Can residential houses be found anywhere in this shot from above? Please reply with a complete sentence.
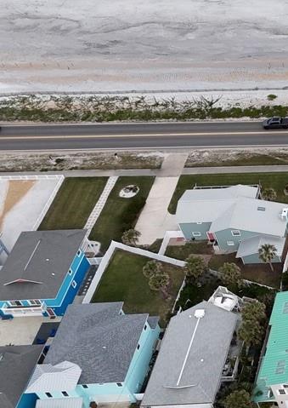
Yes, the image includes a residential house.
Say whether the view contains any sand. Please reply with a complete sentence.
Yes, there is sand in the image.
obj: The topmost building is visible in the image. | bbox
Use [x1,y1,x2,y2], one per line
[168,180,288,268]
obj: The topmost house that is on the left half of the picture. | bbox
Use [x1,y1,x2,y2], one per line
[0,229,102,323]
